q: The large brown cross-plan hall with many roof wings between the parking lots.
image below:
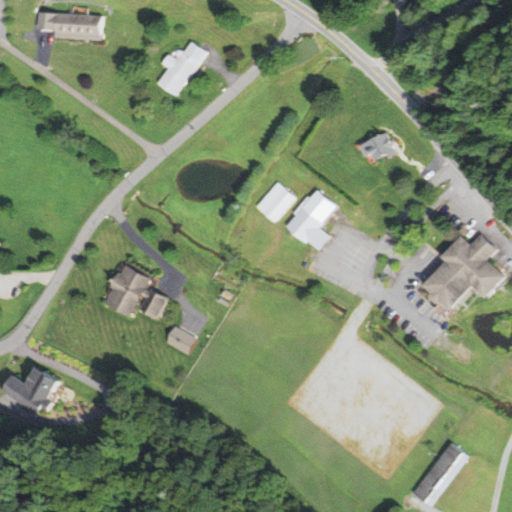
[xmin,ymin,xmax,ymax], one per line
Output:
[423,234,508,310]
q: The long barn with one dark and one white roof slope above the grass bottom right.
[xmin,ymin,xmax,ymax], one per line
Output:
[413,442,470,506]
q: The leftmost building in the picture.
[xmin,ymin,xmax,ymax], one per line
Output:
[3,368,63,412]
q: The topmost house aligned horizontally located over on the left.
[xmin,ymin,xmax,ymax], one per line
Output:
[38,6,107,40]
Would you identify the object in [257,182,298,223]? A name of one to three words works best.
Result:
shed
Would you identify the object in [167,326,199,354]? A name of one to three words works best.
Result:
shed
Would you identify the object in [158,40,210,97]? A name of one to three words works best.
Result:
house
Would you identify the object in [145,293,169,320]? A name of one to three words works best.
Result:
building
